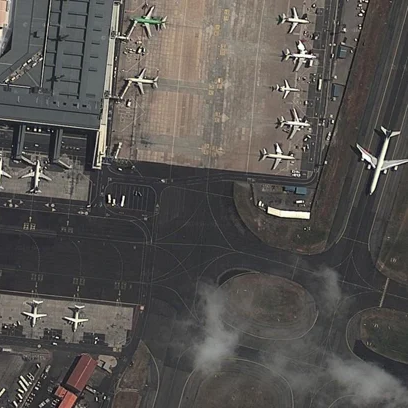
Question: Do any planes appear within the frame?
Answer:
Yes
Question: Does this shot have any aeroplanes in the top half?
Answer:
Yes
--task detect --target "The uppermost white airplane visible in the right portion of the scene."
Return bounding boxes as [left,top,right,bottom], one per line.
[279,7,310,33]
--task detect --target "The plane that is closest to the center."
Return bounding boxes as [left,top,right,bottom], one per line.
[260,142,294,168]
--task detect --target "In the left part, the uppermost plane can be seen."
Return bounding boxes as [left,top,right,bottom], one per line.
[131,6,168,36]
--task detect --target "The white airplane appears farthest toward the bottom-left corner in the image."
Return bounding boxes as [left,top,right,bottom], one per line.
[23,299,48,327]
